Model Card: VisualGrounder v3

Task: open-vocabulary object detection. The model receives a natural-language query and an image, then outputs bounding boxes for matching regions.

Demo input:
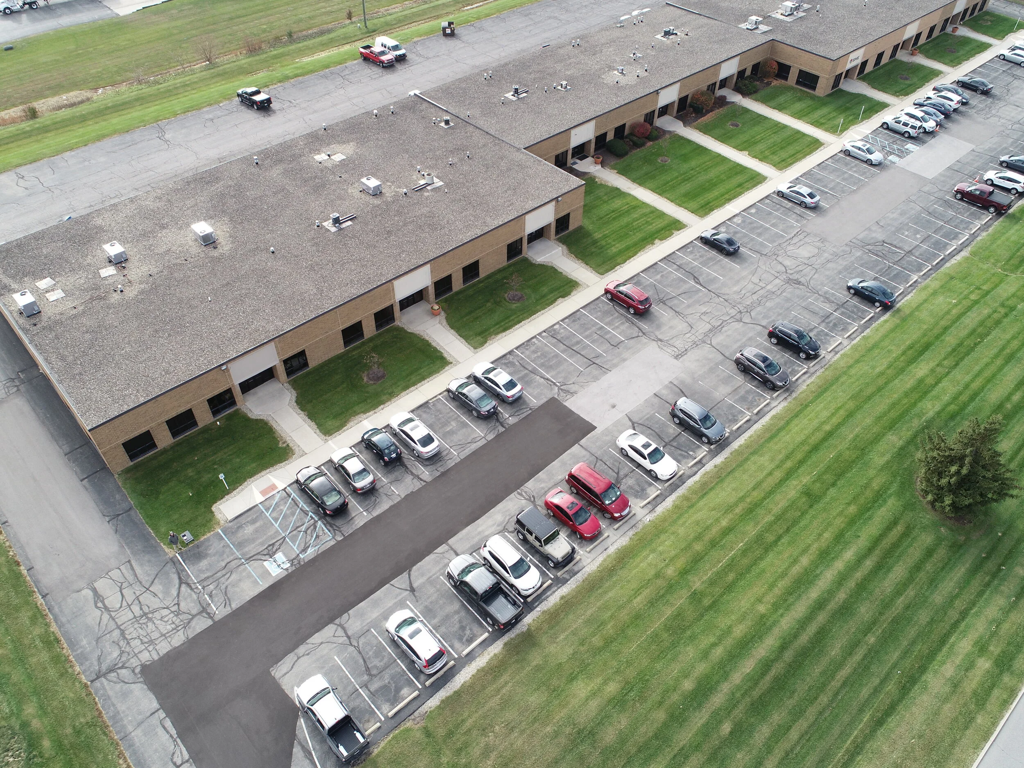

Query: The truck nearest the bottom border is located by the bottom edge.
[295,675,385,768]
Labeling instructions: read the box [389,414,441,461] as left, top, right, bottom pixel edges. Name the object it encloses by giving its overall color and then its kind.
white car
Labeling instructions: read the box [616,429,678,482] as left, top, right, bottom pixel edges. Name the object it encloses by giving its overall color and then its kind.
white car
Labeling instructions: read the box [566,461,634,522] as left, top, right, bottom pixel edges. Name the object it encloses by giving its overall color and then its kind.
red car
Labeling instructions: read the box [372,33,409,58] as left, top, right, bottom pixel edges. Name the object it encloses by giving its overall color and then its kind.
white vehicle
